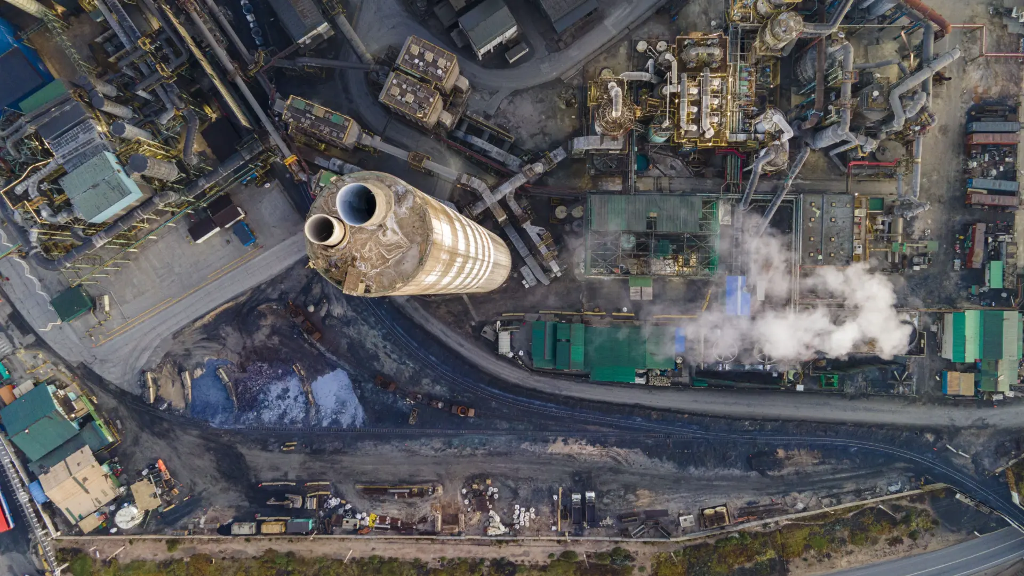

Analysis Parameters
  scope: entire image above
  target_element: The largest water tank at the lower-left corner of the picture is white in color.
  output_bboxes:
[113,499,148,529]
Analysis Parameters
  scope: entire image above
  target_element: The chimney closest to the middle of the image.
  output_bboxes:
[302,169,511,299]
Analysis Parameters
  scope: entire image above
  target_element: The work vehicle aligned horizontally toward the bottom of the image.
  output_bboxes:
[269,496,301,509]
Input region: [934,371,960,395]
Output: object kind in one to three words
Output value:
shed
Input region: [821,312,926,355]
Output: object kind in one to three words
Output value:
cooling tower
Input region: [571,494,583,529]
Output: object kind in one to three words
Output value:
vehicle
